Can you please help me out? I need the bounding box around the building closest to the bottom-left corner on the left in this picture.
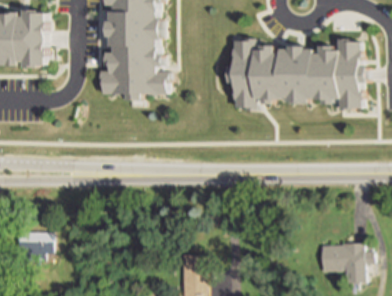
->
[18,232,56,264]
